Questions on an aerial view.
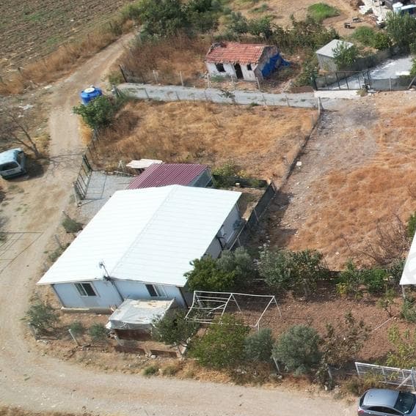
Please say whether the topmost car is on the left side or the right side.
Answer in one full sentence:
The topmost car is on the left side of the image.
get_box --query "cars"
[352,391,416,416]
[0,151,28,176]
